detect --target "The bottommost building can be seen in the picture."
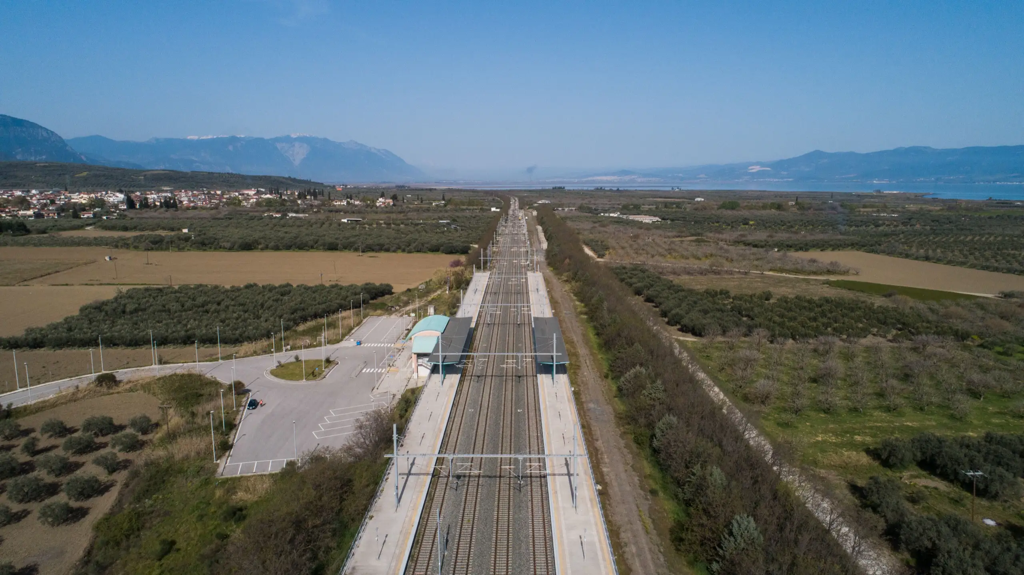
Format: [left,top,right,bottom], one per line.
[405,315,450,379]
